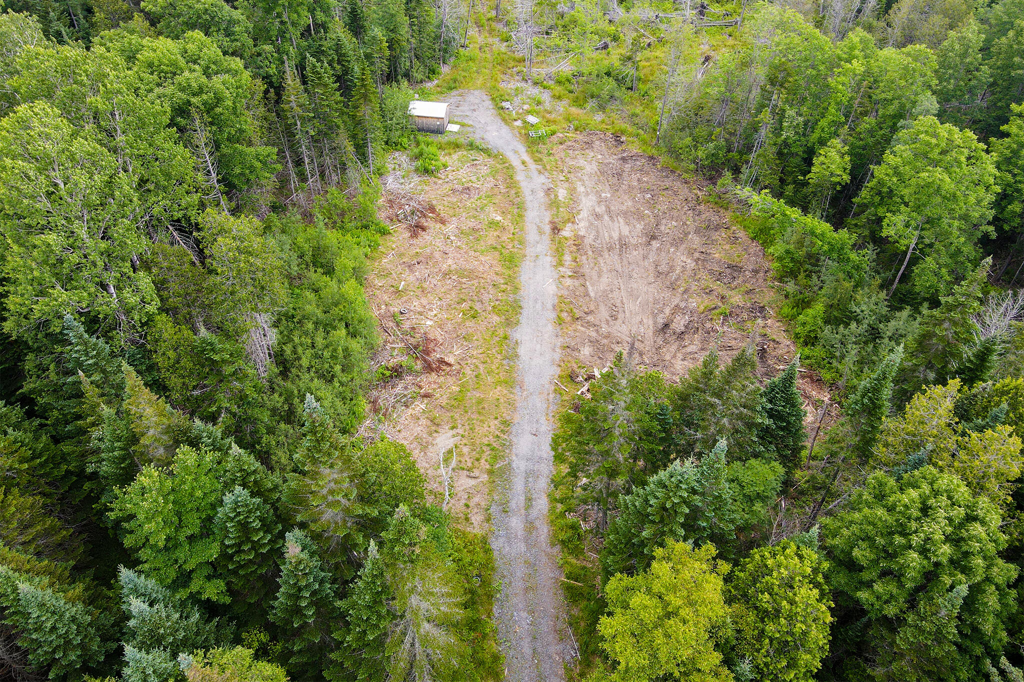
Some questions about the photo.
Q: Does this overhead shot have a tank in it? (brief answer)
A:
No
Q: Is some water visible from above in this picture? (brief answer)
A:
No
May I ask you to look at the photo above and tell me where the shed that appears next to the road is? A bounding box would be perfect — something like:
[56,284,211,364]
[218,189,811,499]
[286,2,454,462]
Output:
[408,104,453,134]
